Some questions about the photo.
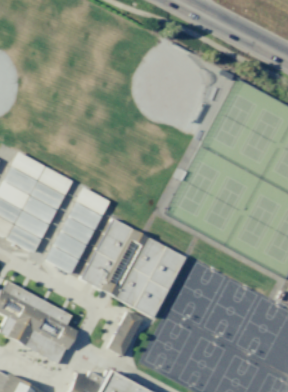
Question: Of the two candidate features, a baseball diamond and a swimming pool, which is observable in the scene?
baseball diamond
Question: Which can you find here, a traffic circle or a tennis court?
tennis court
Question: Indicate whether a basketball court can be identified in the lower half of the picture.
Yes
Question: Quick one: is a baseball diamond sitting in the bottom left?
No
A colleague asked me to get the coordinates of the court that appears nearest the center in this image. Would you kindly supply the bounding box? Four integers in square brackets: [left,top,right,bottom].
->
[177,164,220,216]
